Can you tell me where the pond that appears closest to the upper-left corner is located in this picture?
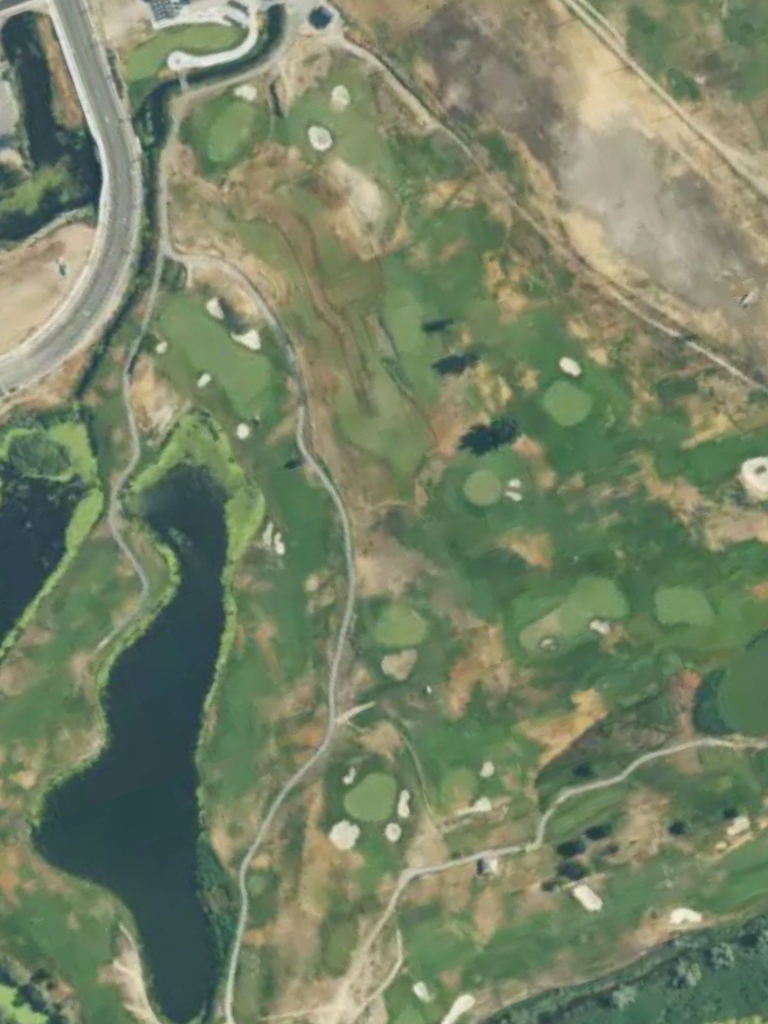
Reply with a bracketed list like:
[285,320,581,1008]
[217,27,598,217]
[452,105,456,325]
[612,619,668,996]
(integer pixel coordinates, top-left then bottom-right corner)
[0,12,98,243]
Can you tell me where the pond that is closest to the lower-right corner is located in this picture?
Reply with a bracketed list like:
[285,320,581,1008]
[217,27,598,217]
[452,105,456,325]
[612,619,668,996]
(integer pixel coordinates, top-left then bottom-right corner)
[696,635,768,735]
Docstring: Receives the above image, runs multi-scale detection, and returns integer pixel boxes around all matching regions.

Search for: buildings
[481,860,497,876]
[154,0,189,25]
